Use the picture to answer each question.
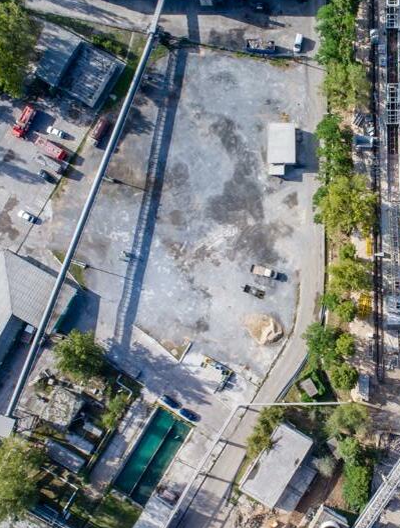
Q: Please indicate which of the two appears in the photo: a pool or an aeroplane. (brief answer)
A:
pool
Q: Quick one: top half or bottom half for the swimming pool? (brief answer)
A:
bottom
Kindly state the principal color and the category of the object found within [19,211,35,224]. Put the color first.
white vehicle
